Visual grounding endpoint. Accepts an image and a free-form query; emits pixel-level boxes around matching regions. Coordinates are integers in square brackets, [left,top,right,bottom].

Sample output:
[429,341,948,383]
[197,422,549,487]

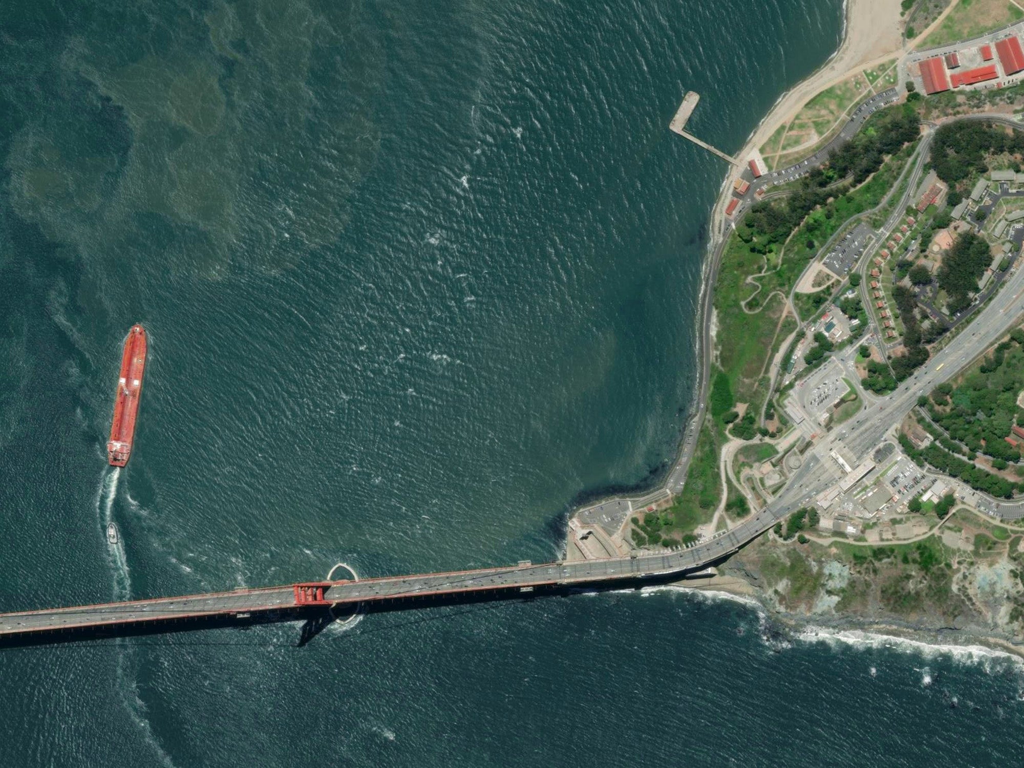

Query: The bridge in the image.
[0,507,776,636]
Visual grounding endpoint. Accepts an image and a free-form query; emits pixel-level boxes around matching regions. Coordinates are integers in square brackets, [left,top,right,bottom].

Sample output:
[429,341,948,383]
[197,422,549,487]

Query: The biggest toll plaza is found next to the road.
[813,429,865,484]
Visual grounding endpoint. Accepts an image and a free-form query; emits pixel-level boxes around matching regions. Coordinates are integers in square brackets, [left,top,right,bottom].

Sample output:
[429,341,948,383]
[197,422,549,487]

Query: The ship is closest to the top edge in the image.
[107,324,148,466]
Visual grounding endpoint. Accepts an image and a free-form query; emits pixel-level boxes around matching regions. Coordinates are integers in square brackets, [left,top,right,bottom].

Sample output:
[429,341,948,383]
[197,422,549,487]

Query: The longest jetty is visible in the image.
[669,91,739,167]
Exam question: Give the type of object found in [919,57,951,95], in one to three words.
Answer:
building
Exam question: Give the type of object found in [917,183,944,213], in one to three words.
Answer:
building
